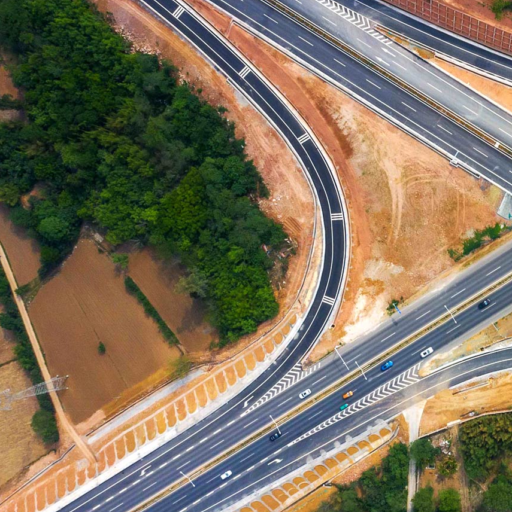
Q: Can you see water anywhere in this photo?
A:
No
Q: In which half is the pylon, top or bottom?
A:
bottom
